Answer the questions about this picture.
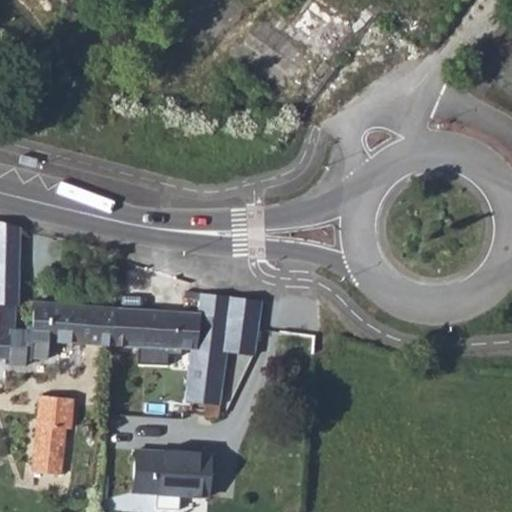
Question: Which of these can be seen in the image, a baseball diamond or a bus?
bus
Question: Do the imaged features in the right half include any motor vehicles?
No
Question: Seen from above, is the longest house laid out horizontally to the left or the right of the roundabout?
left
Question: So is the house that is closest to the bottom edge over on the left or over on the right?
left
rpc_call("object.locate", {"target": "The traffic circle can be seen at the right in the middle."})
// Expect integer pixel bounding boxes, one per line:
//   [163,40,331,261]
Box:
[343,129,512,326]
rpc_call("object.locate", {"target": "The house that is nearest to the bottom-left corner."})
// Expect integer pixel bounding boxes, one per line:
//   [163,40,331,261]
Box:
[30,396,74,475]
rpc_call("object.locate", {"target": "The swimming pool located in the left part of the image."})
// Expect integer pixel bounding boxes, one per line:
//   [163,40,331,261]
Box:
[144,402,168,416]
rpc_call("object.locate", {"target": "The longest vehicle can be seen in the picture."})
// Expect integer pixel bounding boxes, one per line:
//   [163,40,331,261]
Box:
[55,180,116,213]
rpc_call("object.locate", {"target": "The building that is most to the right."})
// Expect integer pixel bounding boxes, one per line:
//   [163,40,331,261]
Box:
[184,294,264,420]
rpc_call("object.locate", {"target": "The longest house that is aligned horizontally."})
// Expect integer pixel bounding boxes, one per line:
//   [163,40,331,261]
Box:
[32,302,200,367]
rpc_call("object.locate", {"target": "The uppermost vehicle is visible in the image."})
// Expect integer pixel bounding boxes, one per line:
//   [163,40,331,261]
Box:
[17,154,46,169]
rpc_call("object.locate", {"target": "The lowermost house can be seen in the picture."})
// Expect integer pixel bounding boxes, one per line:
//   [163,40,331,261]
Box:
[132,450,213,498]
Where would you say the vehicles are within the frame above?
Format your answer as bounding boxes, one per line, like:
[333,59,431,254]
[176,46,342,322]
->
[112,432,132,442]
[144,212,167,222]
[190,216,210,226]
[55,180,116,213]
[17,154,46,169]
[138,426,163,437]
